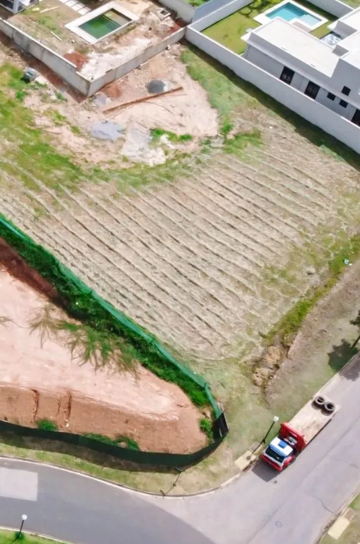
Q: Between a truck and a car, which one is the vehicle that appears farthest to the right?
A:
truck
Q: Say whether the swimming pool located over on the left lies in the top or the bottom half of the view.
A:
top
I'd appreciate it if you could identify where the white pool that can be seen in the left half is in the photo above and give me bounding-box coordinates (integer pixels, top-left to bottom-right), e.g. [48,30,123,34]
[65,1,137,43]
